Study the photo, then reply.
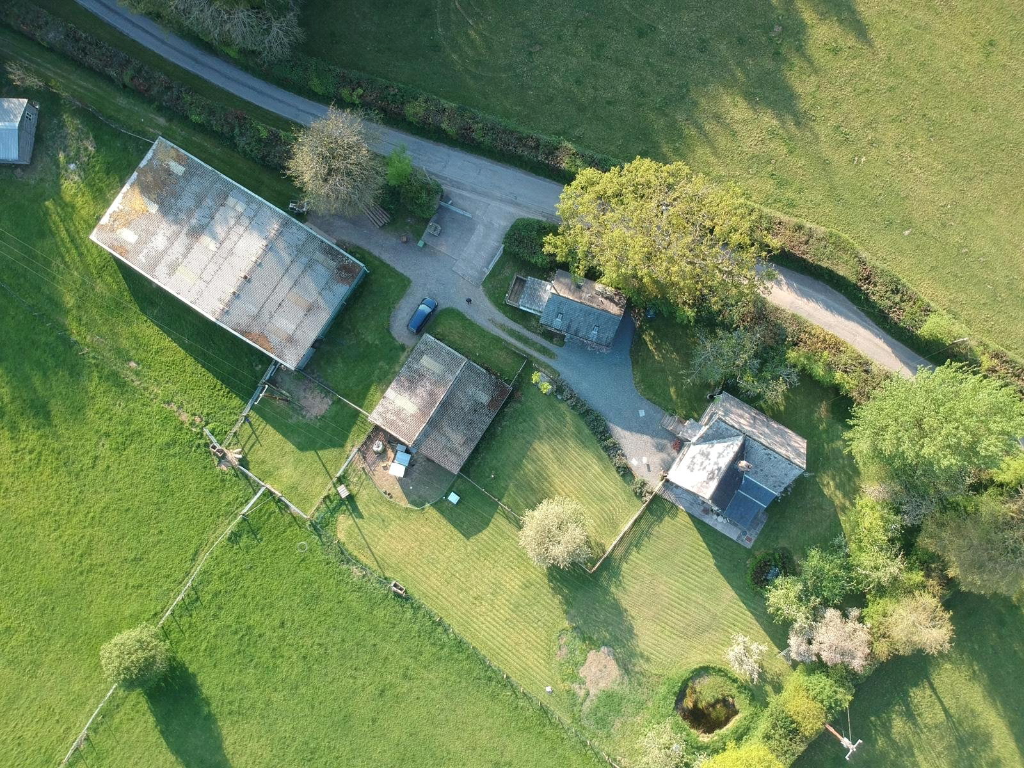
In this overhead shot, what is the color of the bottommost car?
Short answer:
blue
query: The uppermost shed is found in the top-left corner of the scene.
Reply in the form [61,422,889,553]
[0,96,37,165]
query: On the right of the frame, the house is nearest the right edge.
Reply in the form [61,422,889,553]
[665,391,812,526]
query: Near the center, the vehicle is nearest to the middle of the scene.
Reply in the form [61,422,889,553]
[406,296,438,337]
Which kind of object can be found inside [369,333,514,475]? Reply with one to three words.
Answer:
barn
